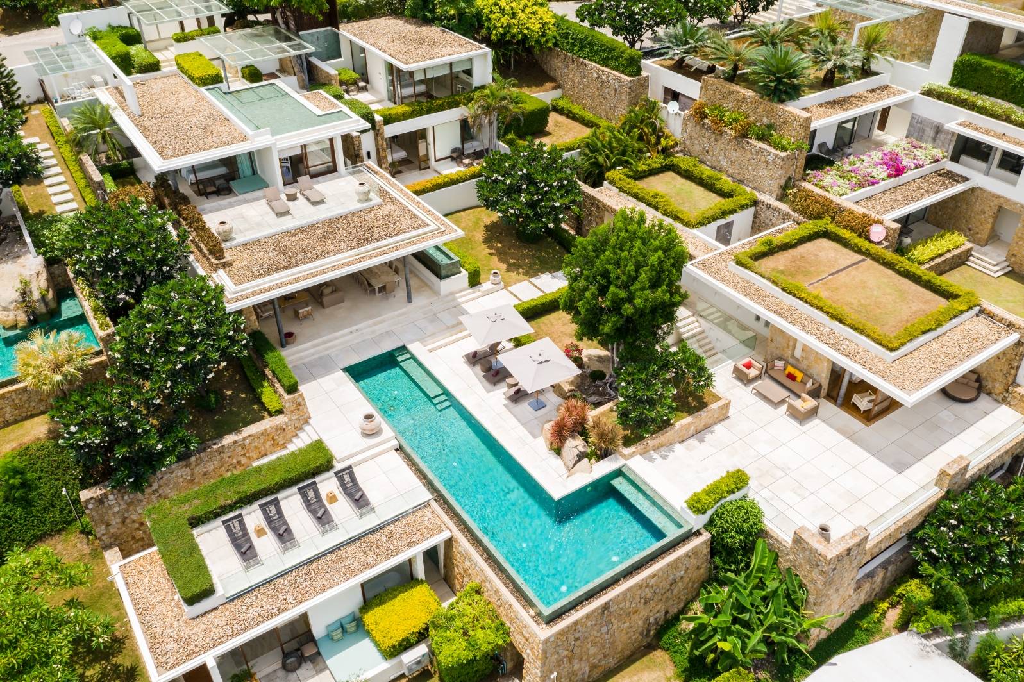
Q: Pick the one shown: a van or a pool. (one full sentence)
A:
Visible in the photo is a pool.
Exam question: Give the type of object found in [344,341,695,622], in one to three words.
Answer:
swimming pool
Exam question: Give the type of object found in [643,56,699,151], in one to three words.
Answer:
shed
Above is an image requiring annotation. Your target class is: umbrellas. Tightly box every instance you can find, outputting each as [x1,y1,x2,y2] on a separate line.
[494,340,582,410]
[454,305,536,369]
